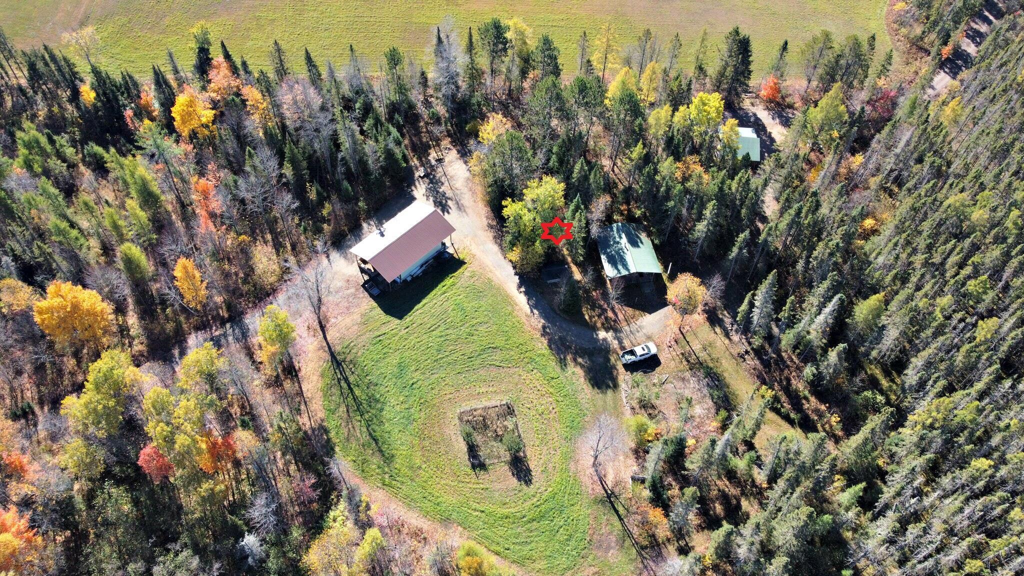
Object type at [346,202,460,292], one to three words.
barn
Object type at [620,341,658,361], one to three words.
vehicle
